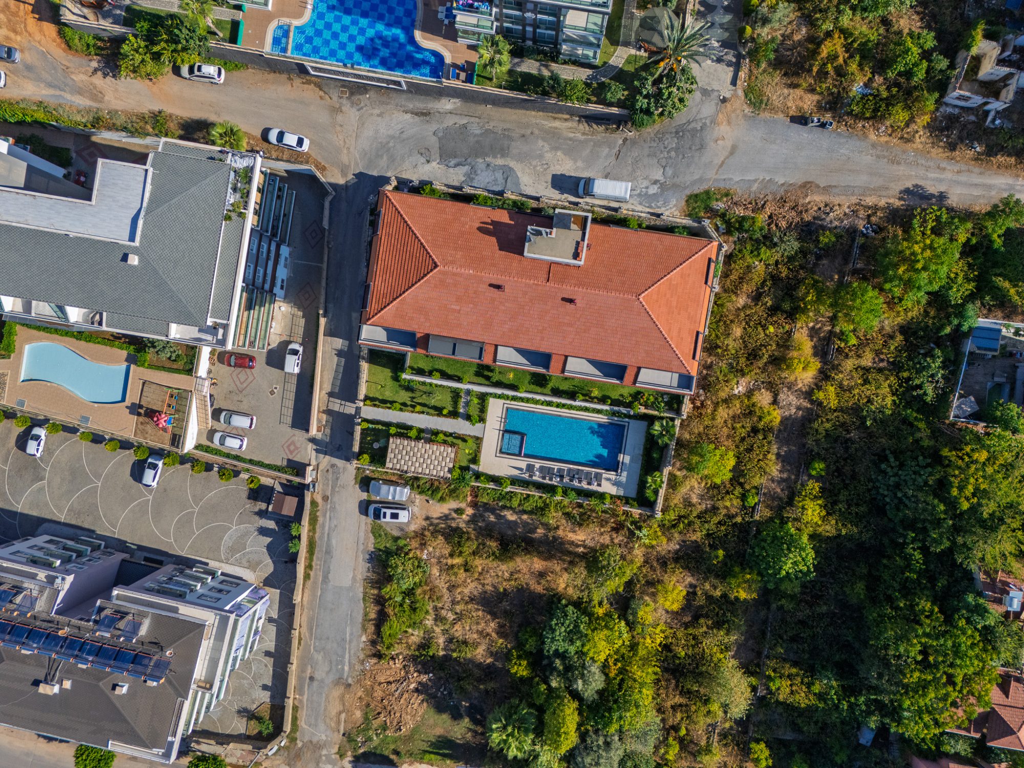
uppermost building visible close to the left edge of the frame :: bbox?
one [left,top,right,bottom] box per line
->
[0,137,307,354]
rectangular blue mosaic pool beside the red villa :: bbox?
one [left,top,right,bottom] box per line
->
[492,402,631,477]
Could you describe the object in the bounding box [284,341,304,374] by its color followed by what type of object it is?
white car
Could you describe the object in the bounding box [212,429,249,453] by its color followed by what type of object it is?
white car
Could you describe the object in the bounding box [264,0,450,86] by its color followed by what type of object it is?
blue swimming pool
